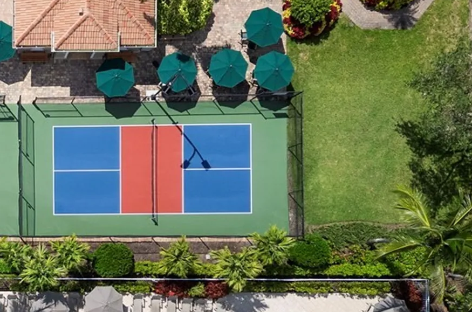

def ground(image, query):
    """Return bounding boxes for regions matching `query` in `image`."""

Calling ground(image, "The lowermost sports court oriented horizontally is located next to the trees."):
[19,101,289,235]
